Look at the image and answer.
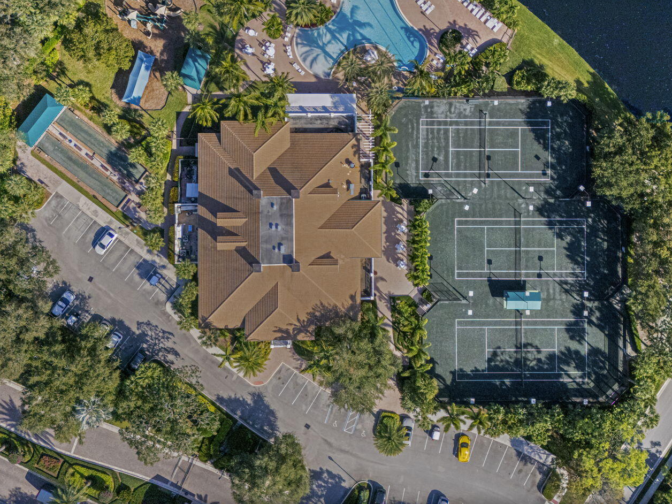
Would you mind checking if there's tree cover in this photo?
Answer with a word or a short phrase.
Yes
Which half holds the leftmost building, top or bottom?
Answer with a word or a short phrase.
top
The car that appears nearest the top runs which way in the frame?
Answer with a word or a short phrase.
at an angle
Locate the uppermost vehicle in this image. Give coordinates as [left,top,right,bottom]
[94,228,118,255]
